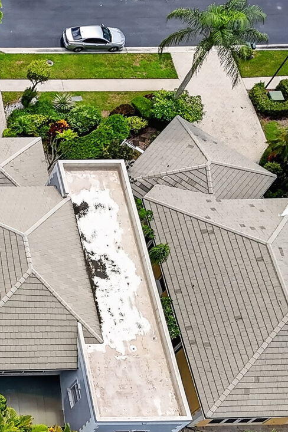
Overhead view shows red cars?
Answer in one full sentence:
No, this view has no red car in it.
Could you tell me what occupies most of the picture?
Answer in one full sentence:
The largest share of the image is taken up by buildings.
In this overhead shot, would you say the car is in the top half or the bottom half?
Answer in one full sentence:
The car sits in the top half of the picture.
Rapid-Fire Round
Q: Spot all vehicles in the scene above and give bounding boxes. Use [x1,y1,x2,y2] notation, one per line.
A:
[57,20,123,50]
